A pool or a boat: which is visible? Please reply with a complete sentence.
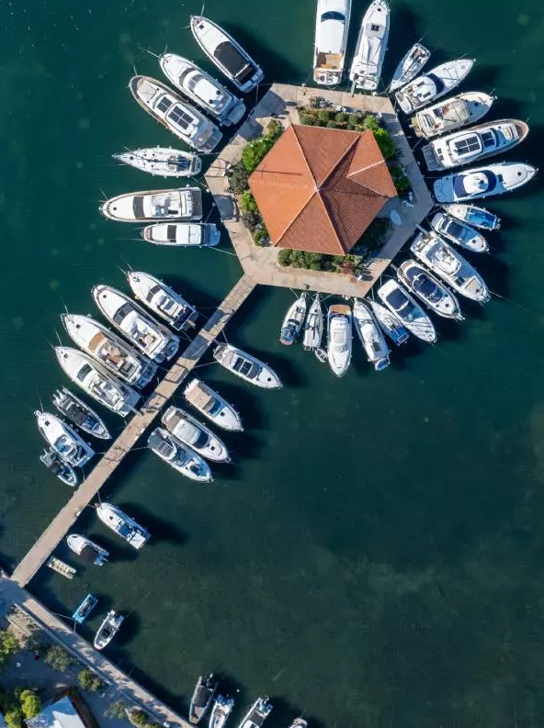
Of the two, only a boat appears.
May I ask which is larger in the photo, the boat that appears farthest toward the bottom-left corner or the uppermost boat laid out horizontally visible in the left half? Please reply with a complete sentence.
The uppermost boat laid out horizontally visible in the left half is larger than the boat that appears farthest toward the bottom-left corner.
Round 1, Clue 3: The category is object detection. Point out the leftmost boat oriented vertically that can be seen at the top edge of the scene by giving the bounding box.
[309,0,353,94]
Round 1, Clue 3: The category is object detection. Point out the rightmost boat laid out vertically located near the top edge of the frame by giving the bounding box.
[346,0,391,100]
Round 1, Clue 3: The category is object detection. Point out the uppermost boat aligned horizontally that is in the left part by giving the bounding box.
[112,145,227,178]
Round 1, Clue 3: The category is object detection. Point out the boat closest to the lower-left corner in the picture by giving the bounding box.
[93,608,122,649]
